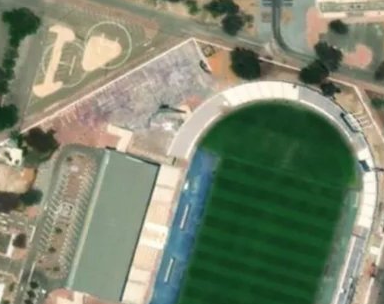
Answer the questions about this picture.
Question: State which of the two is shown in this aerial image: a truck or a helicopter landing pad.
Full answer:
This aerial view contains a helicopter landing pad.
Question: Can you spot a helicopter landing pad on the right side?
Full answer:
No, no helicopter landing pad appears on the right side.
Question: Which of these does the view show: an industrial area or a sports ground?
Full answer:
This image shows a sports ground.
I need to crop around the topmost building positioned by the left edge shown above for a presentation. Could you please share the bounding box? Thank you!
[0,147,22,167]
